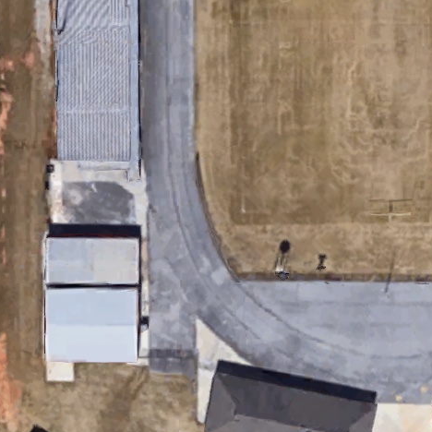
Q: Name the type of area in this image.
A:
sports ground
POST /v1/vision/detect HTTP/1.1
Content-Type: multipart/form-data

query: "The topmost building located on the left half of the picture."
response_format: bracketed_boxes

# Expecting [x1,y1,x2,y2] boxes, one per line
[45,233,140,284]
